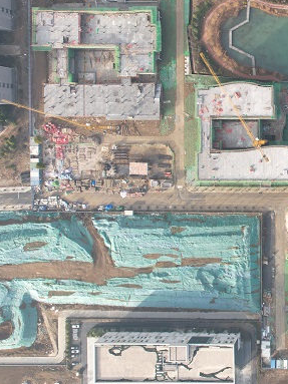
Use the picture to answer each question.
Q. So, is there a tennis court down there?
No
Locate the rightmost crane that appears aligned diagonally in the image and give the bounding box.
[201,53,270,162]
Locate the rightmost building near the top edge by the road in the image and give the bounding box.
[33,8,166,86]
